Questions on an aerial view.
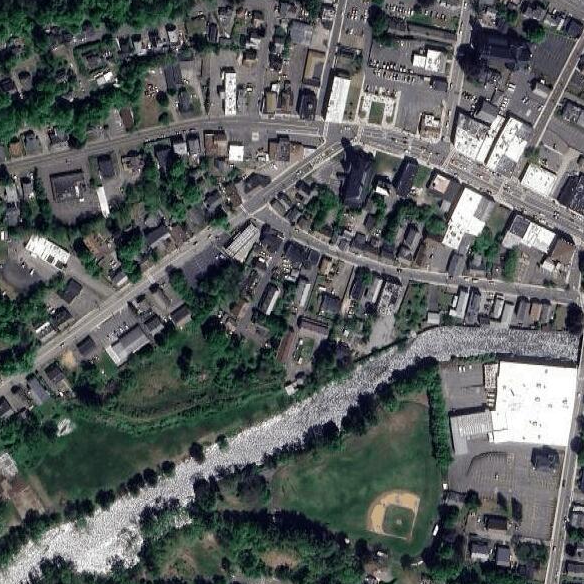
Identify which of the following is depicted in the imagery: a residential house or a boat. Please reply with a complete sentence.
The one in the frame is a residential house.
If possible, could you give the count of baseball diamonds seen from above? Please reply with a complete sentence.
In total, there is 1 baseball diamond in the scene.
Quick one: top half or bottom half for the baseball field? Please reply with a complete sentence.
The bottom half of the photo is where the baseball field is.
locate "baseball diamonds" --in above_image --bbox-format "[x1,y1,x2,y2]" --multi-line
[276,429,440,546]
